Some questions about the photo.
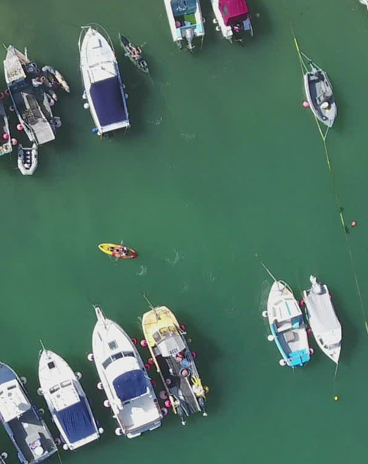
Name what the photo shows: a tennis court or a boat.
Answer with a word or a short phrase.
boat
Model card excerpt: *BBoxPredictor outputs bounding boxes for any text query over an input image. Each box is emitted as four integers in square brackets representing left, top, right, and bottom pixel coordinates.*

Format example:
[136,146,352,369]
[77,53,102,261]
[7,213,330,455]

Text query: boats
[3,46,55,144]
[143,305,208,425]
[92,305,164,438]
[99,243,139,259]
[266,276,313,367]
[164,0,203,52]
[304,63,335,127]
[0,361,56,464]
[118,33,149,73]
[17,144,38,174]
[80,22,130,141]
[44,69,70,99]
[37,346,100,449]
[210,0,253,45]
[300,276,345,364]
